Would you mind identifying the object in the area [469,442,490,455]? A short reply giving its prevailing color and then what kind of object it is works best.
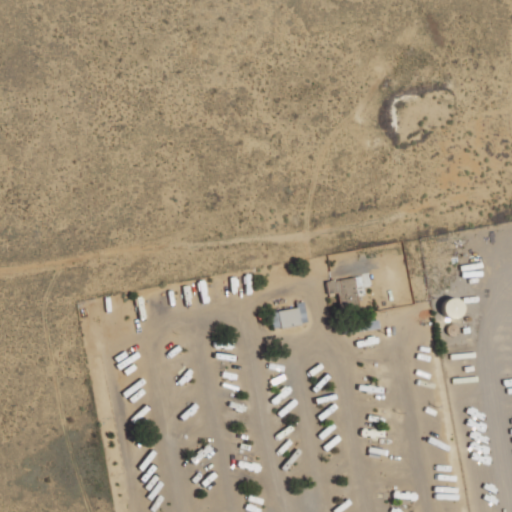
white vehicle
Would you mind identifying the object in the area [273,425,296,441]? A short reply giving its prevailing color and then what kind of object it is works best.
white camper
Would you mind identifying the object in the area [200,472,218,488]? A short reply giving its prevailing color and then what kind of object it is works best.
white vehicle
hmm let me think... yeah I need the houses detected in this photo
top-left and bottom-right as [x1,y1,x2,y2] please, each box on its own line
[328,274,372,310]
[274,302,308,330]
